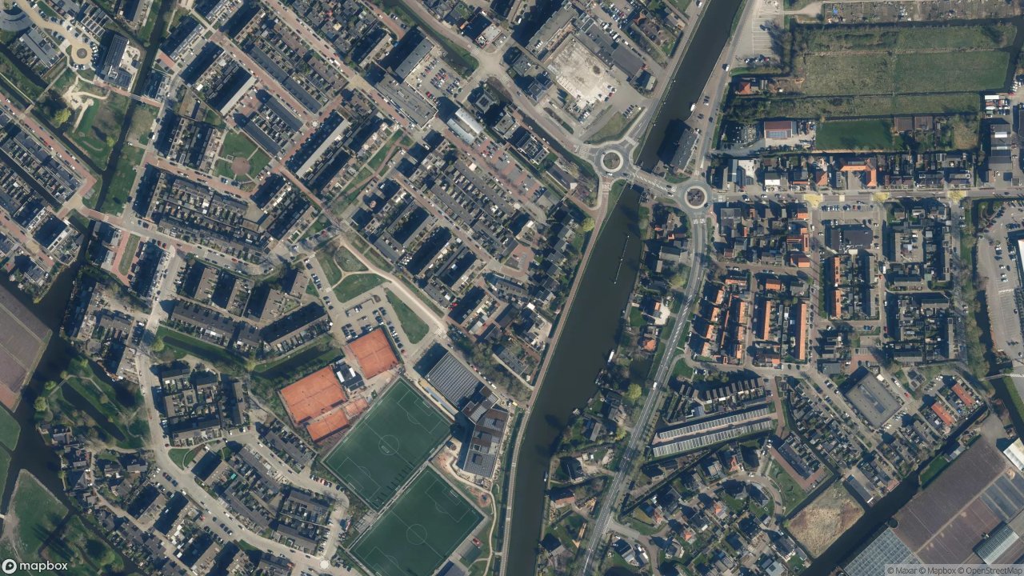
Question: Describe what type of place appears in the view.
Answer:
residential area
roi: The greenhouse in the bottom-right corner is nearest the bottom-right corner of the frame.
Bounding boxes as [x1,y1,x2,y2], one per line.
[972,521,1019,564]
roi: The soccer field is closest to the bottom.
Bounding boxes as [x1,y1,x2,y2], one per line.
[349,465,485,576]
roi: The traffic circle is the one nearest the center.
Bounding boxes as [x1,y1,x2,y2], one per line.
[595,144,628,177]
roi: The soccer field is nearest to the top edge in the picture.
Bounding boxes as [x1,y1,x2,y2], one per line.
[324,378,454,510]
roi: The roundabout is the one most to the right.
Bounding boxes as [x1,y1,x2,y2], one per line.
[679,180,713,214]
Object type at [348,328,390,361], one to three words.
tennis court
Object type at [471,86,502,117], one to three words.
house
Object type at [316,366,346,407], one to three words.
tennis court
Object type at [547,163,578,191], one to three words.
building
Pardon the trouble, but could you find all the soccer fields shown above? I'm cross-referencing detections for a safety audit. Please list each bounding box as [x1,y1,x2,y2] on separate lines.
[324,378,454,510]
[349,465,485,576]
